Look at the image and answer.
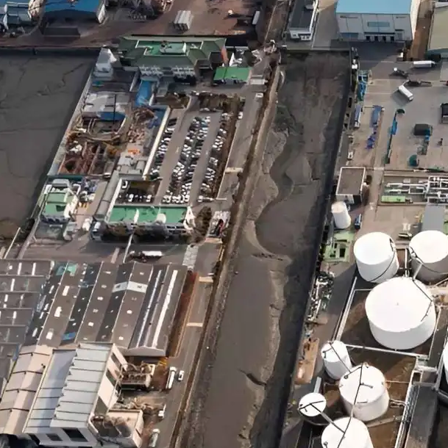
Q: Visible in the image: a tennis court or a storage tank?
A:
storage tank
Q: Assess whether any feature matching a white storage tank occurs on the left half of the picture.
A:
No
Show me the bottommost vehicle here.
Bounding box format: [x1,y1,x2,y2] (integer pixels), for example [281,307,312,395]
[147,428,160,447]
